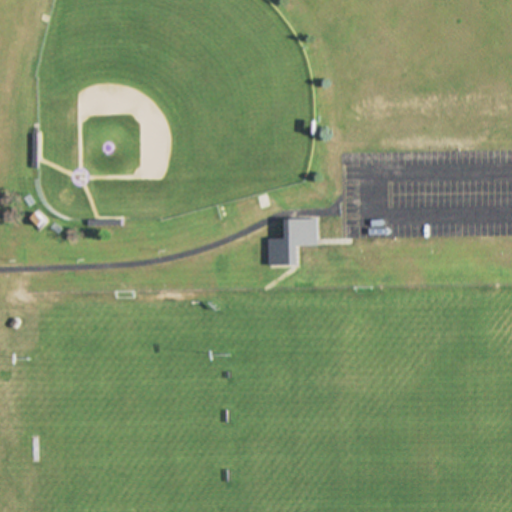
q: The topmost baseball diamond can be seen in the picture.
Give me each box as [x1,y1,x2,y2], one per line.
[38,0,316,222]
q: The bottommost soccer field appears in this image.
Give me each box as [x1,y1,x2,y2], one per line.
[0,286,512,512]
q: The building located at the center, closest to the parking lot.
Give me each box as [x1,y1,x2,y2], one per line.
[268,219,320,265]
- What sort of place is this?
sports ground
